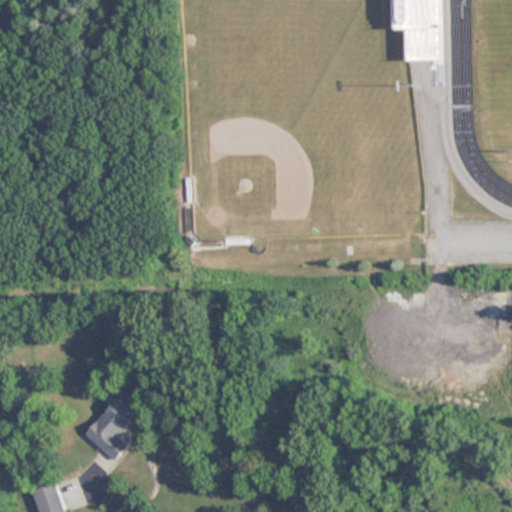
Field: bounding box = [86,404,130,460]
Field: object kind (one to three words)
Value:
house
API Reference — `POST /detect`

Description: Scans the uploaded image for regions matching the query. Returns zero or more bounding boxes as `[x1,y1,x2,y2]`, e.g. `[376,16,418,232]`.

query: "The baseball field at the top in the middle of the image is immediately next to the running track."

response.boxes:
[184,0,423,238]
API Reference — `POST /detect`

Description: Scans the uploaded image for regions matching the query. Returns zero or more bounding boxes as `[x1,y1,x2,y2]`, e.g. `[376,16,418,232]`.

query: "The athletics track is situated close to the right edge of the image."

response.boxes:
[452,0,512,203]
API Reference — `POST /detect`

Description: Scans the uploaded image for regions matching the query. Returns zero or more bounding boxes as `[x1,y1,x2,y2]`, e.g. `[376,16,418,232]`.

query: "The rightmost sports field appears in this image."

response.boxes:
[473,0,512,179]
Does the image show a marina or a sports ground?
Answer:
sports ground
